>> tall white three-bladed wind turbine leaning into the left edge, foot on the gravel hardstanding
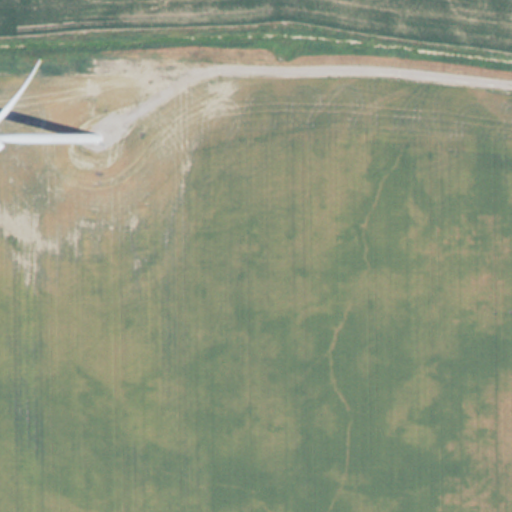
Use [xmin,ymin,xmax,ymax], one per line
[0,61,106,152]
